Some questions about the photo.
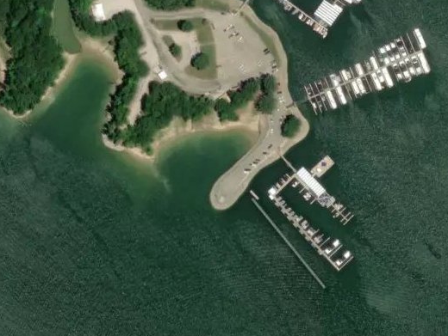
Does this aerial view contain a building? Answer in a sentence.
Yes, a building can be made out from above.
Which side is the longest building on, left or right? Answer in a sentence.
The longest building is on the right side of the image.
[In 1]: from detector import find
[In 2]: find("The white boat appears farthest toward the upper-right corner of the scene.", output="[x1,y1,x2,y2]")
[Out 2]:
[415,28,427,48]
